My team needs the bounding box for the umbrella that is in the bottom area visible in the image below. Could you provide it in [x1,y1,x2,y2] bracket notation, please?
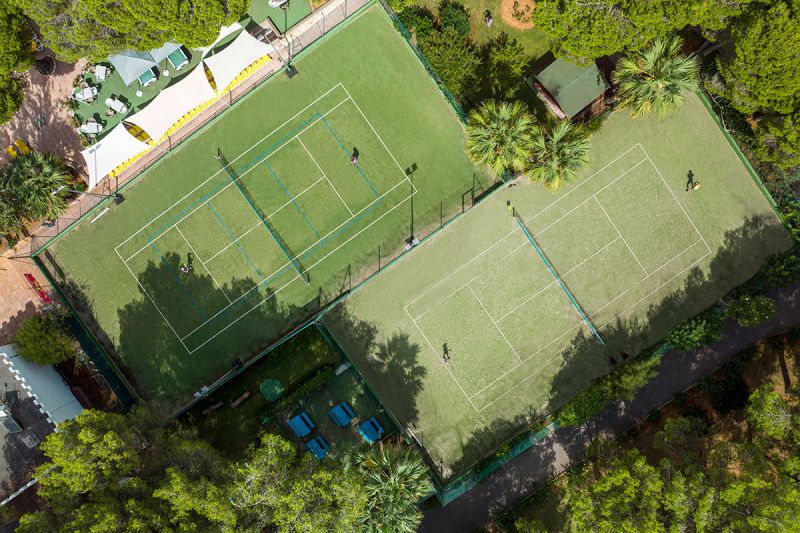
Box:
[260,378,284,403]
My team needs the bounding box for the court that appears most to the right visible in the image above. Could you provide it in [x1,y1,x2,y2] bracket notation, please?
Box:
[316,72,795,485]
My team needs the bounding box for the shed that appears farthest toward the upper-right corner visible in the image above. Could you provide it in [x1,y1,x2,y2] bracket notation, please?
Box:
[529,52,609,122]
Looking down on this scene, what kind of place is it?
sports ground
